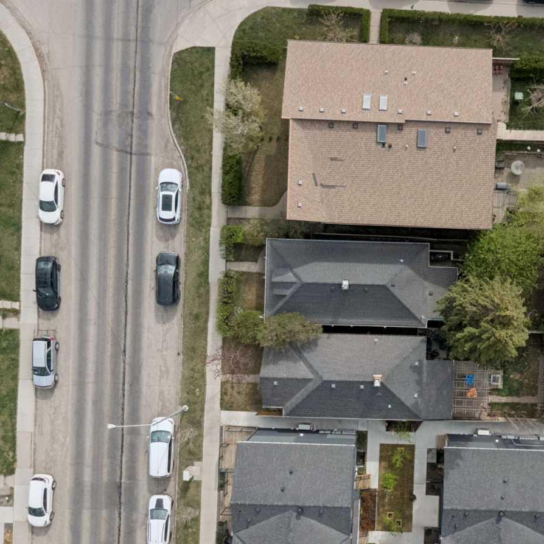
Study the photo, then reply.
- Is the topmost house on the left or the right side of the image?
right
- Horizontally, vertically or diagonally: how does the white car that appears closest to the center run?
vertically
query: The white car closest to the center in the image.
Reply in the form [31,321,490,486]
[154,169,183,225]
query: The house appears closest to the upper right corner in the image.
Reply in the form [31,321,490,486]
[282,39,496,229]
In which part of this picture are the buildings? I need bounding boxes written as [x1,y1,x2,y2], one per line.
[230,428,360,544]
[260,332,453,420]
[438,434,544,544]
[264,238,457,329]
[282,39,496,229]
